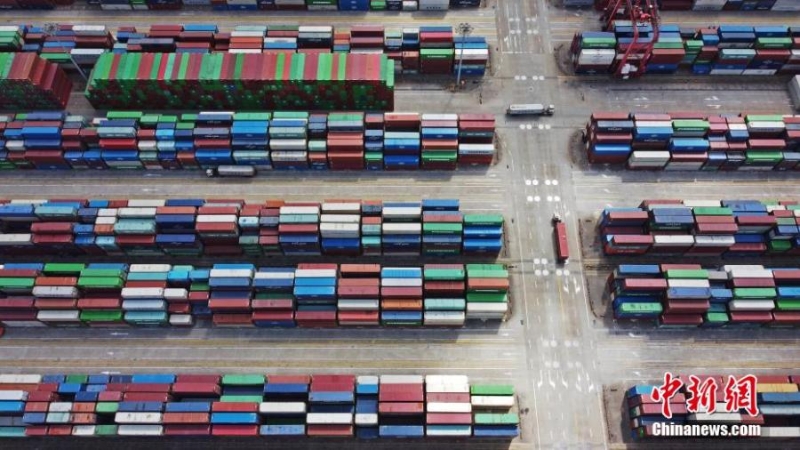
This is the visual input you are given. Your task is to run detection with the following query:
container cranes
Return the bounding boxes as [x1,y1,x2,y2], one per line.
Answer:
[604,0,664,82]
